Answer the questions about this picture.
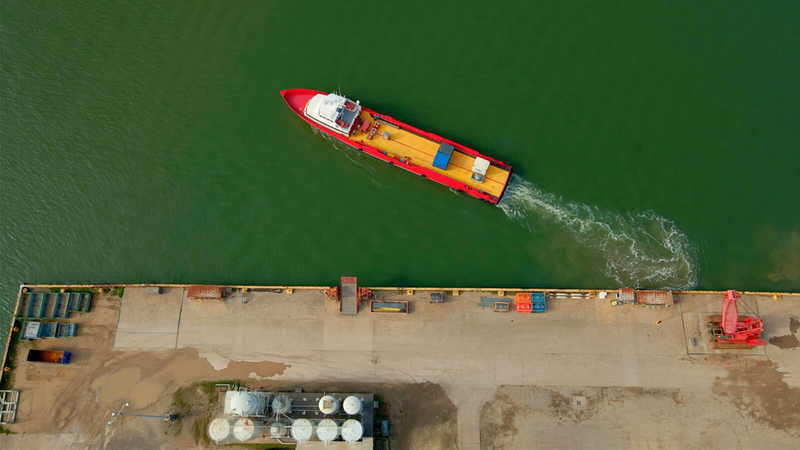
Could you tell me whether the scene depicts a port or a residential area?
port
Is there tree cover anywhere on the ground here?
No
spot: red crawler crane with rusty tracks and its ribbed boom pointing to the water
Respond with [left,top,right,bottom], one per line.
[705,290,769,349]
